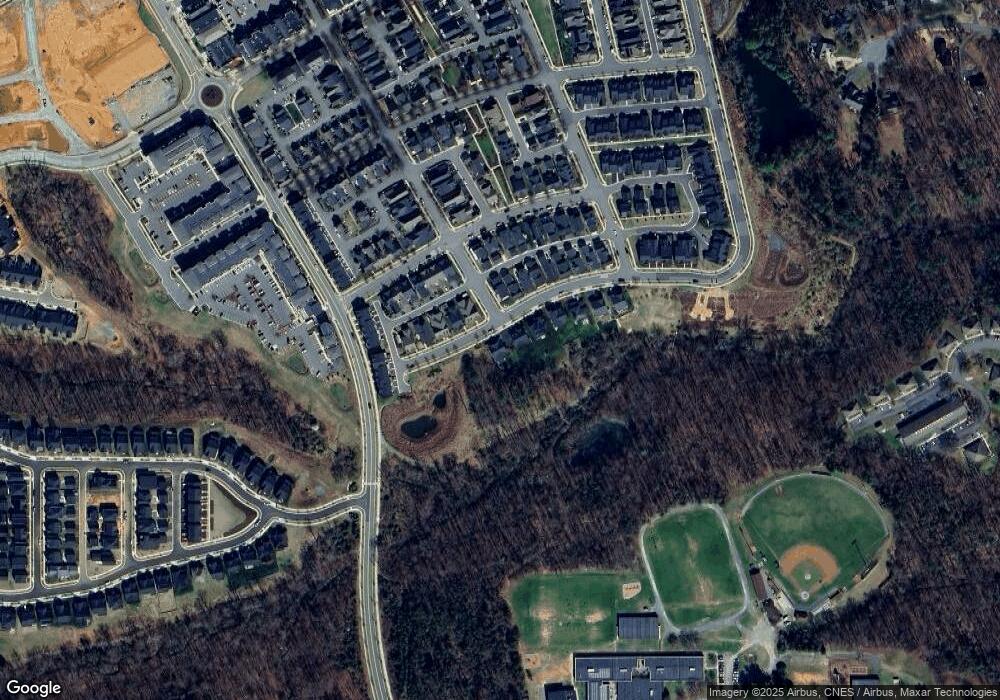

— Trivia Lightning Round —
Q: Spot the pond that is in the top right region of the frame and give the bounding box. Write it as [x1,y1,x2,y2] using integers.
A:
[735,49,816,151]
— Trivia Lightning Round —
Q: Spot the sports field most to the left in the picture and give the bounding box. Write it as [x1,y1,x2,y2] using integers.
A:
[512,573,658,652]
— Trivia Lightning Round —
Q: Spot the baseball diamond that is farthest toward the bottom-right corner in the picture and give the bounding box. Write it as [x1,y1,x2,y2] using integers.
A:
[743,473,892,609]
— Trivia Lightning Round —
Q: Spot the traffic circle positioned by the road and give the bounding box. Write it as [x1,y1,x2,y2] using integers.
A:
[194,81,233,119]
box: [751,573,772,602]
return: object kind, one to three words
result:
building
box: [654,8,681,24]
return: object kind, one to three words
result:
house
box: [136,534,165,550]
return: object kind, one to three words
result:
house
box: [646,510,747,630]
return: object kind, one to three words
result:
sports field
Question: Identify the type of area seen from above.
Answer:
residential area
